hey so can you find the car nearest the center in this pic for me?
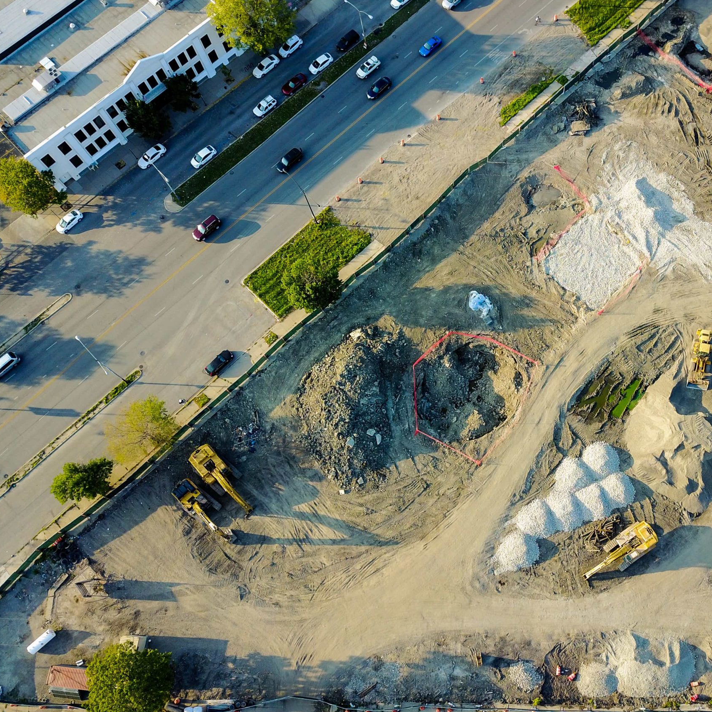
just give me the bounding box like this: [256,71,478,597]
[204,349,235,378]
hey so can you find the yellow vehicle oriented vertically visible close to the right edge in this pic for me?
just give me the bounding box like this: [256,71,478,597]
[688,331,712,389]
